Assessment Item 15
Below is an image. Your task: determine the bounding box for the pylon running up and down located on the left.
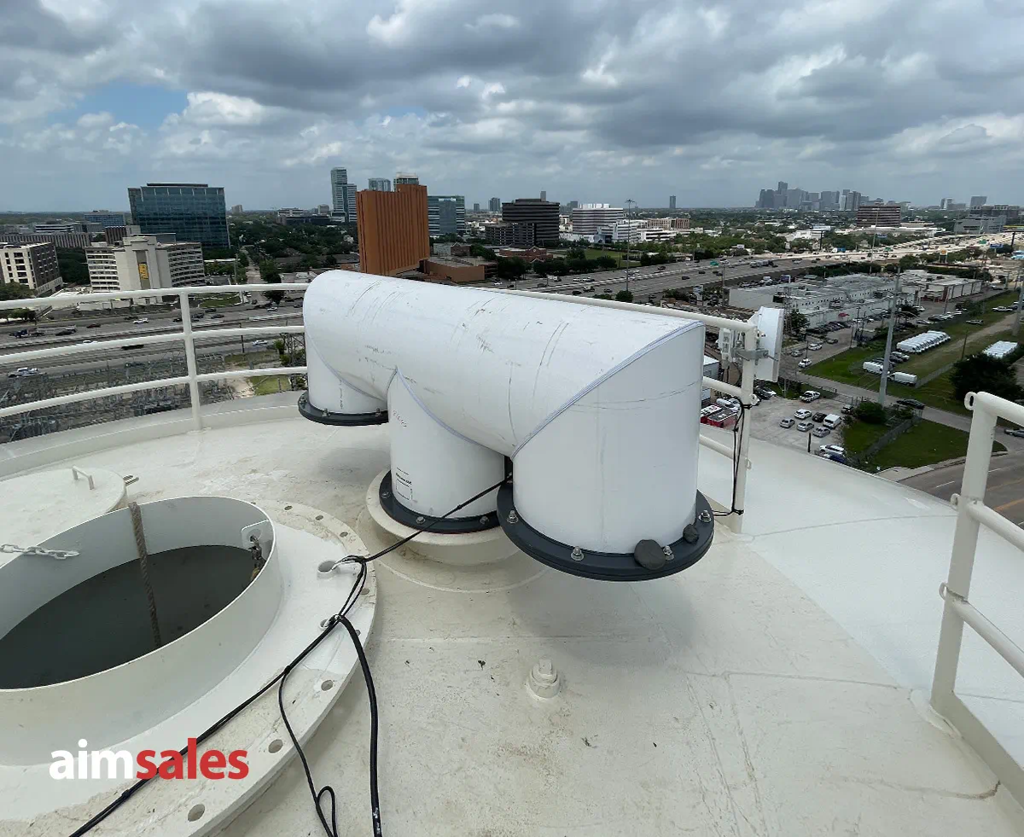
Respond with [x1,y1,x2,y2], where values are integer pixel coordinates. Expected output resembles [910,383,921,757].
[281,339,297,387]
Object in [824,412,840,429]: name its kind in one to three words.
vehicle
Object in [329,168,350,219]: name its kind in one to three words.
building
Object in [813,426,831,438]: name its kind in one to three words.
vehicle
